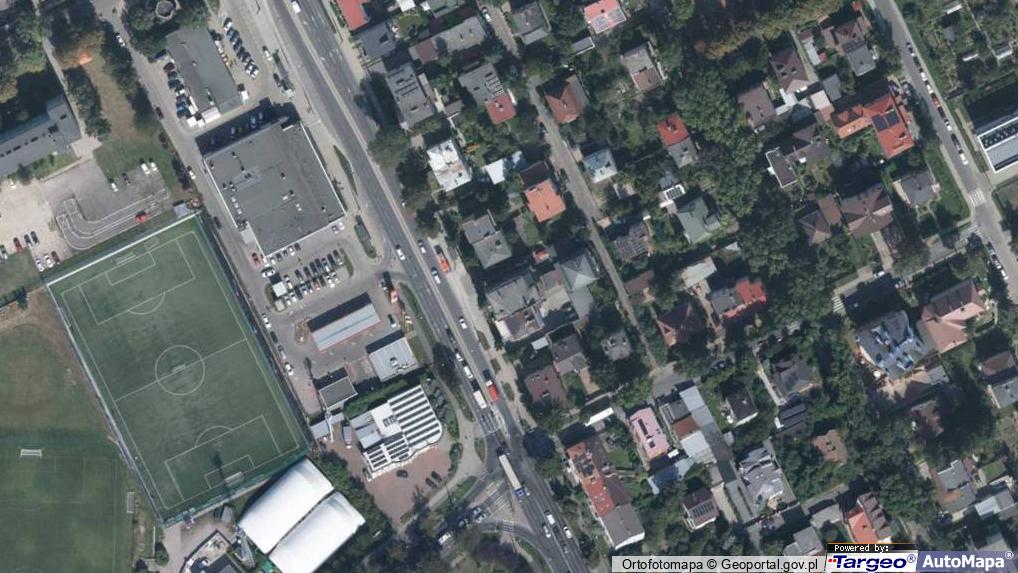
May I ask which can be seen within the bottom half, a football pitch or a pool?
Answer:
football pitch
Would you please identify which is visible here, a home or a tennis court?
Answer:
home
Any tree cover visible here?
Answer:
Yes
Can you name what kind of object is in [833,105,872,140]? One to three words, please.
house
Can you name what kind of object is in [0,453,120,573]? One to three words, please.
soccer field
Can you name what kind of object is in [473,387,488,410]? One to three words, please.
vehicle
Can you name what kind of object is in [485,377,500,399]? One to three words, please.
vehicle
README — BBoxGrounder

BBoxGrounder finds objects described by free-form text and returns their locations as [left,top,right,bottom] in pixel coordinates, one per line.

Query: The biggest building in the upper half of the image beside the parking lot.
[203,117,346,259]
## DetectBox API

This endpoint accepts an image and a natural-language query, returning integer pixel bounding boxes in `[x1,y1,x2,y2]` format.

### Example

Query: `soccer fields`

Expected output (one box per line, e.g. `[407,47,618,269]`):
[48,215,311,524]
[0,453,120,573]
